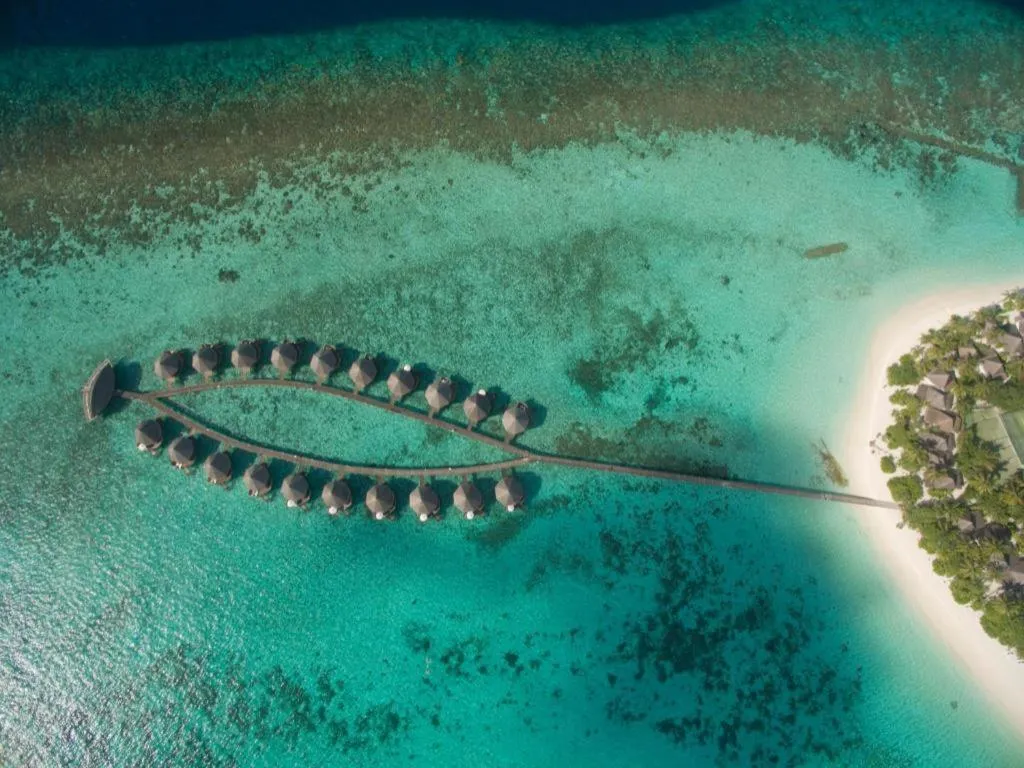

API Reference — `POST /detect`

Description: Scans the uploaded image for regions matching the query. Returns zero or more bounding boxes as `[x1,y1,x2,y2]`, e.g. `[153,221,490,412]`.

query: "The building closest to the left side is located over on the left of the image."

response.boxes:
[80,358,116,421]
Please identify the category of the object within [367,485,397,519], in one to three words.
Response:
house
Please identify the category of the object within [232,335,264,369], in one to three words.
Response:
house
